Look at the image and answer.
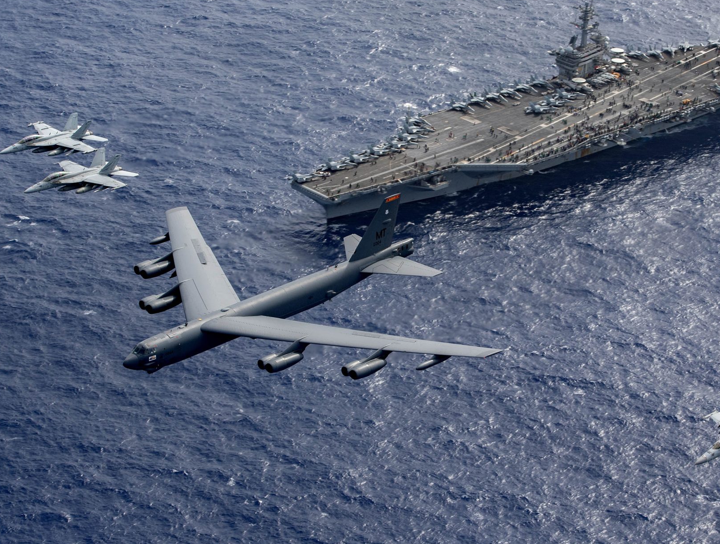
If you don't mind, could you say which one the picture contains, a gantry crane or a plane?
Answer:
plane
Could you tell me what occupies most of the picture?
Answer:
water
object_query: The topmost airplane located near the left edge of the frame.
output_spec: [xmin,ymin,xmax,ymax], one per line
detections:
[0,112,108,155]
